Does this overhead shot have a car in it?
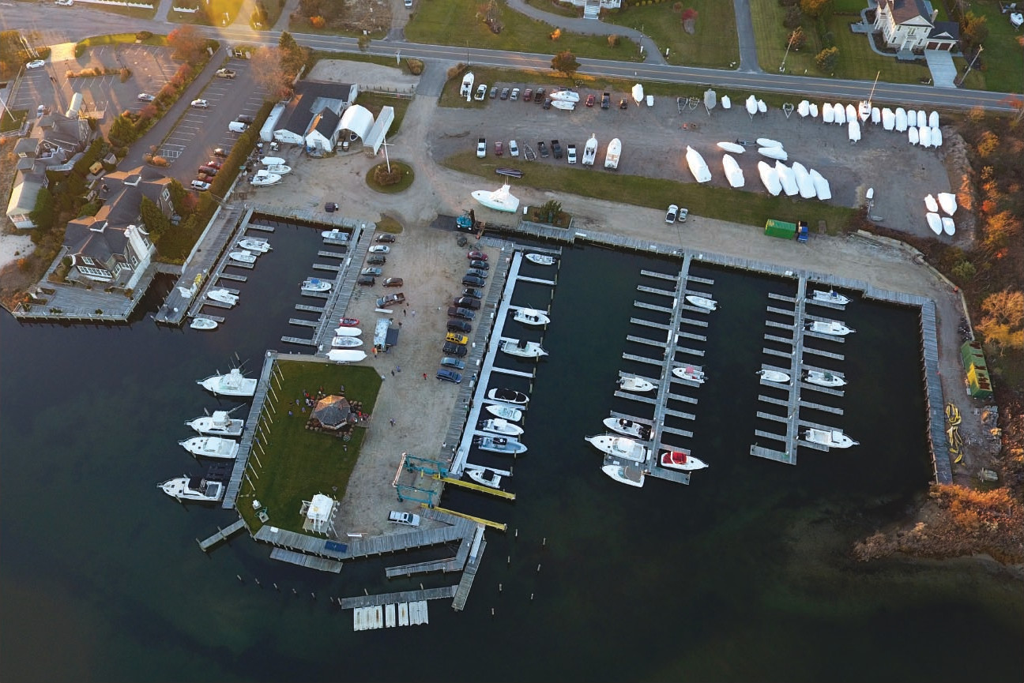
Yes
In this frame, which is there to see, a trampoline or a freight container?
freight container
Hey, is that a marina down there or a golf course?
marina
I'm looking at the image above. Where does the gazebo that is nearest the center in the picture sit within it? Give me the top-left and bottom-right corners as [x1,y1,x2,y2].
[313,394,346,429]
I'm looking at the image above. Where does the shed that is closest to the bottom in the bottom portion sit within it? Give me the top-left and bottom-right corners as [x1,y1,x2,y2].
[298,486,338,533]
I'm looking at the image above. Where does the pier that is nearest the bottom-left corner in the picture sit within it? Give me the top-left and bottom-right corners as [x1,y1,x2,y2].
[199,519,245,551]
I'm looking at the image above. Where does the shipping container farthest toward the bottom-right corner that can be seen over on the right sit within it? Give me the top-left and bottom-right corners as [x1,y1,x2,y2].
[961,342,993,399]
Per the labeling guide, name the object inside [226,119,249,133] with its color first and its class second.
white vehicle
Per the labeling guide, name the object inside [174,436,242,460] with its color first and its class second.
white boat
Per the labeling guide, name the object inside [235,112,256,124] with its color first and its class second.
gray vehicle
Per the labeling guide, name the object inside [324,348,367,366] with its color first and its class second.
white boat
